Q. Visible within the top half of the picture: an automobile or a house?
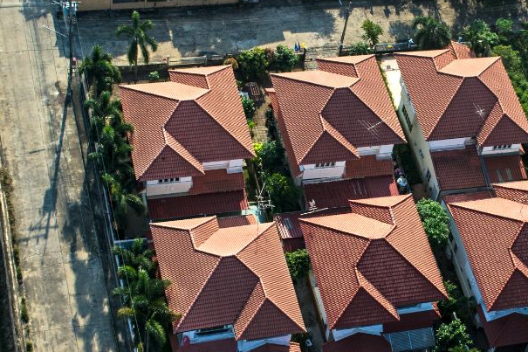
house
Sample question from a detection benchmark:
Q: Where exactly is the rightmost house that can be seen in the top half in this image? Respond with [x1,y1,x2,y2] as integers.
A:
[393,34,528,209]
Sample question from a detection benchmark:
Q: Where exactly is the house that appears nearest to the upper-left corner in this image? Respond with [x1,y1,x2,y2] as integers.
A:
[119,65,256,240]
